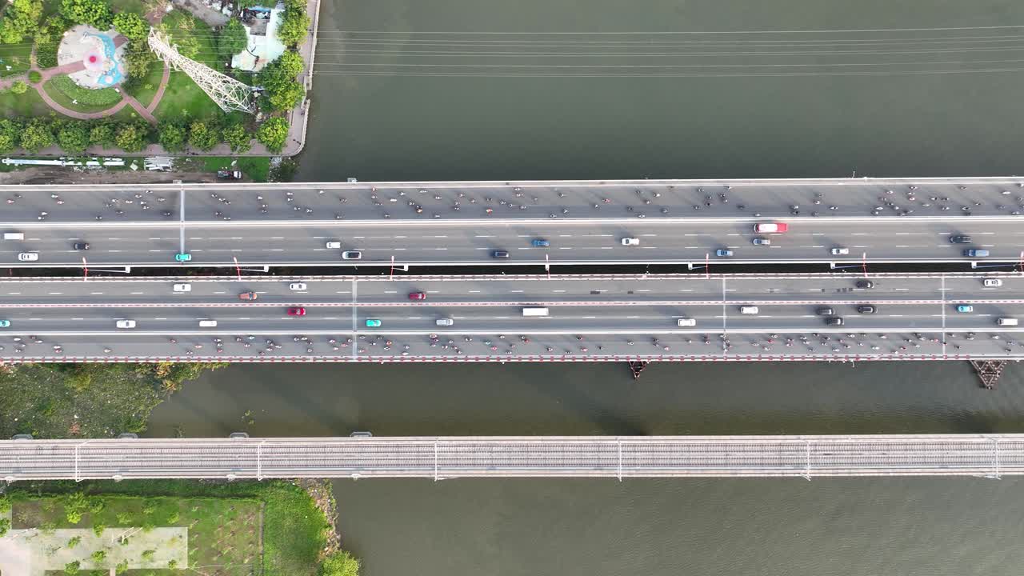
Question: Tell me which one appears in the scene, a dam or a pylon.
pylon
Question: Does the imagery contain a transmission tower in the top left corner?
Yes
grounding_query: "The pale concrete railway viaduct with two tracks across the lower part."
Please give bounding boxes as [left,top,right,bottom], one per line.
[0,430,1024,482]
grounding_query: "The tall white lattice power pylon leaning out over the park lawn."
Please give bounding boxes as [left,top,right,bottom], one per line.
[148,26,256,116]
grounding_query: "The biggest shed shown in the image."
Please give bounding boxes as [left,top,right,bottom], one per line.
[230,6,287,70]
